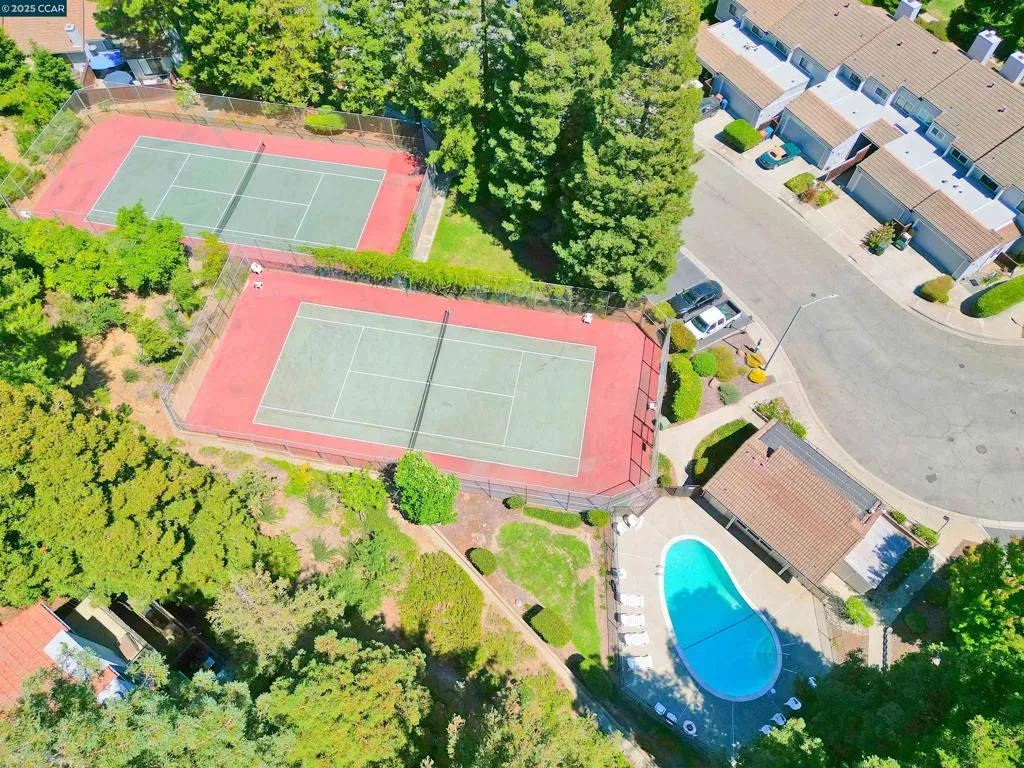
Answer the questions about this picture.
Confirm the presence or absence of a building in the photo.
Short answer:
Yes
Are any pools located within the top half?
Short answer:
No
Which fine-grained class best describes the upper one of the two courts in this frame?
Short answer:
tennis court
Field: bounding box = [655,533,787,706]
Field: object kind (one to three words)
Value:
swimming pool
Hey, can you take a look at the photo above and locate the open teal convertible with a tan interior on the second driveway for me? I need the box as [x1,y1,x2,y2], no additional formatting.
[755,137,804,165]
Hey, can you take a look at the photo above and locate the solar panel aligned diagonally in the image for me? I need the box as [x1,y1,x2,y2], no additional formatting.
[766,424,874,514]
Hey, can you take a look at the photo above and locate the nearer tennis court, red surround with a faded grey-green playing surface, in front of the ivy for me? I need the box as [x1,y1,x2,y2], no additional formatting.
[186,267,660,514]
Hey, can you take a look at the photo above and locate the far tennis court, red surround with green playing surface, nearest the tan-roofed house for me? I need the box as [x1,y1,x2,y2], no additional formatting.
[33,114,429,283]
